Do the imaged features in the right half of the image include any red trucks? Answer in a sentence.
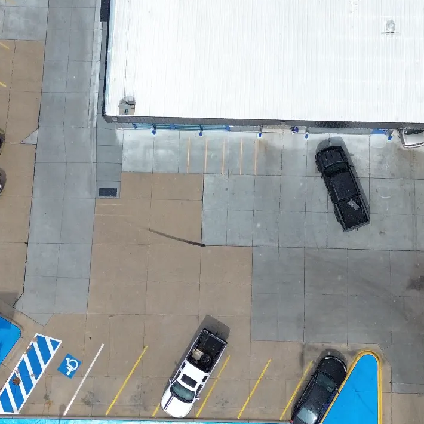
No, I see no red truck in the right half of the image.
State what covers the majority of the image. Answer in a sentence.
For the most part, this view shows paved ground.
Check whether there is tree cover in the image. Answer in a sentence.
No, the picture contains no tree cover.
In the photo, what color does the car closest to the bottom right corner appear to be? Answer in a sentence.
From above, the car closest to the bottom right corner appears black.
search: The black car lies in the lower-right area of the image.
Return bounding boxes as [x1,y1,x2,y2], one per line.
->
[289,354,346,424]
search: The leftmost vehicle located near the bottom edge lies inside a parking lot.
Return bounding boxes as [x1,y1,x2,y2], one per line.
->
[164,328,229,423]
